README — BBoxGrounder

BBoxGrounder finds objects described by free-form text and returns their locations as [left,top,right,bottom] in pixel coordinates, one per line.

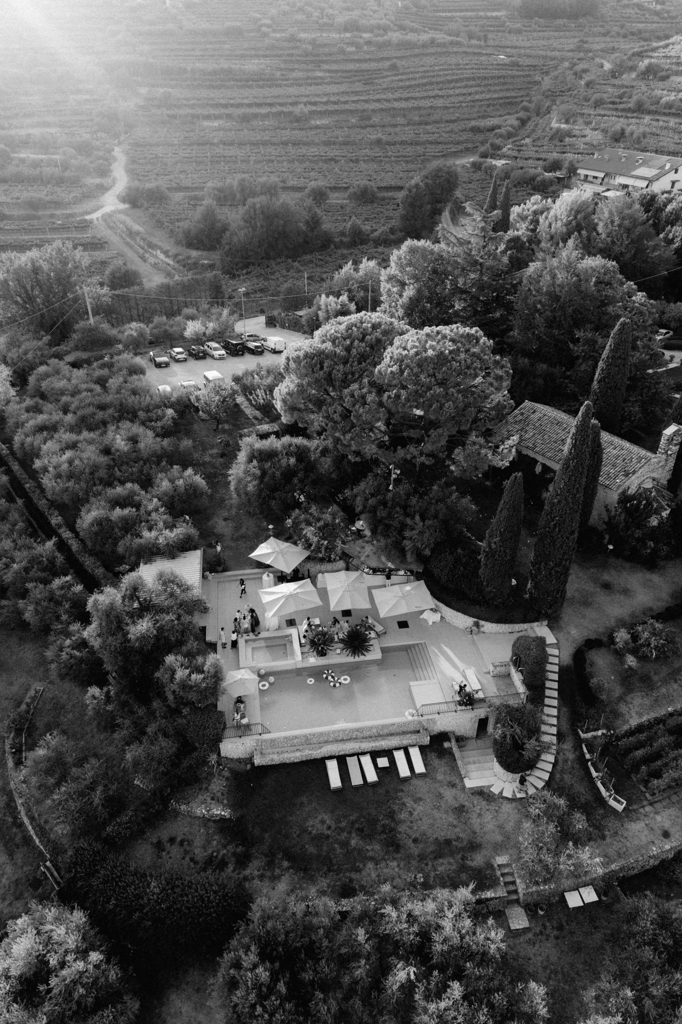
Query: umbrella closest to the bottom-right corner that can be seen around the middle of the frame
[370,580,440,629]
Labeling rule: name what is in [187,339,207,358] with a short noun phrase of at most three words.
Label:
car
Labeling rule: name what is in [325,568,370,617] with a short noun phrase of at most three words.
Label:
umbrella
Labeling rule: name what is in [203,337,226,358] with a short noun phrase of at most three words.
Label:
car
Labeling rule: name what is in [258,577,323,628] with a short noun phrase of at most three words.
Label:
umbrella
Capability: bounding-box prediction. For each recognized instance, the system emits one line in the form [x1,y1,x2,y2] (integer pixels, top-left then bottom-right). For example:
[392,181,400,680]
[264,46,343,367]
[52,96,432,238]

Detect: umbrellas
[247,536,313,583]
[258,577,323,628]
[370,580,440,629]
[325,568,370,617]
[220,659,260,703]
